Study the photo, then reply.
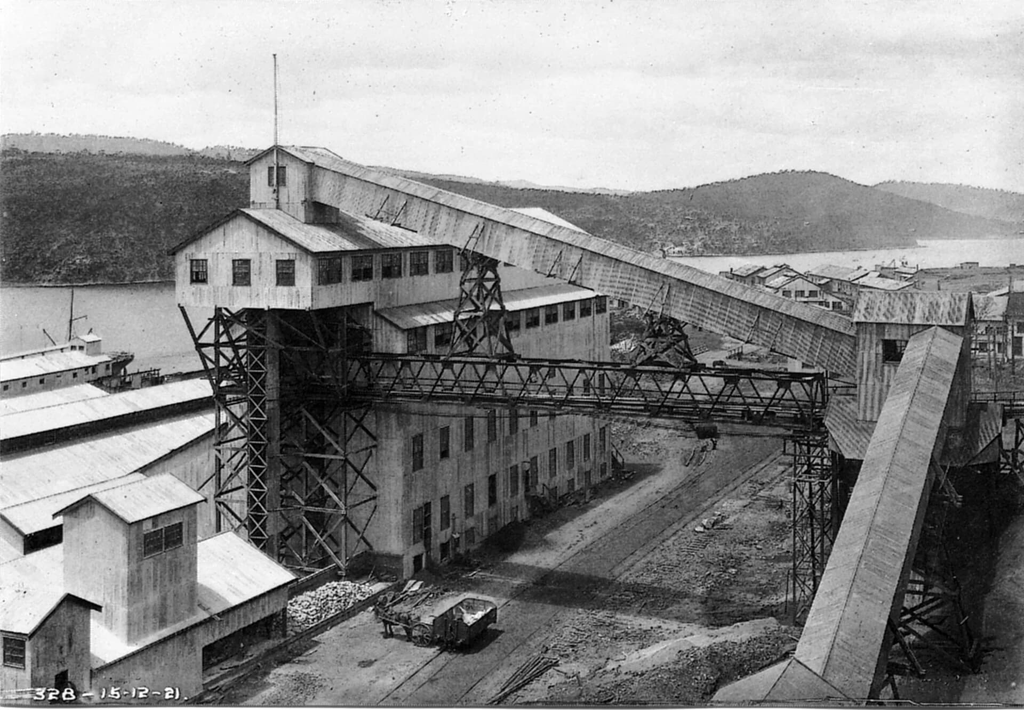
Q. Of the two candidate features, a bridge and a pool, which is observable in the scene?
bridge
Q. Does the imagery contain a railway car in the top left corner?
No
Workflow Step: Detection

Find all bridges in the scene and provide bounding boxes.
[318,349,827,433]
